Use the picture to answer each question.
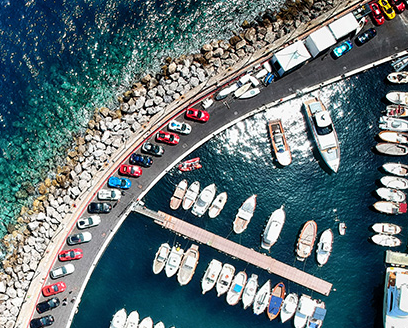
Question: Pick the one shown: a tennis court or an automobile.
automobile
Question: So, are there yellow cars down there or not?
Yes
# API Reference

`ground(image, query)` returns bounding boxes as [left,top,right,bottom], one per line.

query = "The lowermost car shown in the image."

[29,313,55,328]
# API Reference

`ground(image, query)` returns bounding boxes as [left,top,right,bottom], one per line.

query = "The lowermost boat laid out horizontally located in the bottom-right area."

[371,233,408,248]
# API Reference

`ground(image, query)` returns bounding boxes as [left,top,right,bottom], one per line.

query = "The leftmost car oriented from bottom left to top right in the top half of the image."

[329,39,355,59]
